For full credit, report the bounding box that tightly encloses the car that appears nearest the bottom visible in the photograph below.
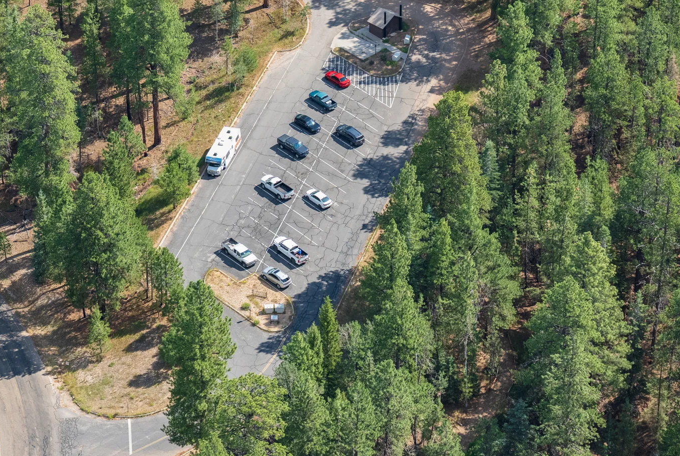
[260,267,293,289]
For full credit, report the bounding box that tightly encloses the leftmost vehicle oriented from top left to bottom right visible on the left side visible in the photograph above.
[222,239,259,268]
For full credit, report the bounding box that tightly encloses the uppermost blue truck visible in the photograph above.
[306,88,338,109]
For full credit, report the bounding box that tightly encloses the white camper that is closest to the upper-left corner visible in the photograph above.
[207,128,239,173]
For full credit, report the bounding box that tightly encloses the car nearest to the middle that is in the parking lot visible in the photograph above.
[304,188,333,209]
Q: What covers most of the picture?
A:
trees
